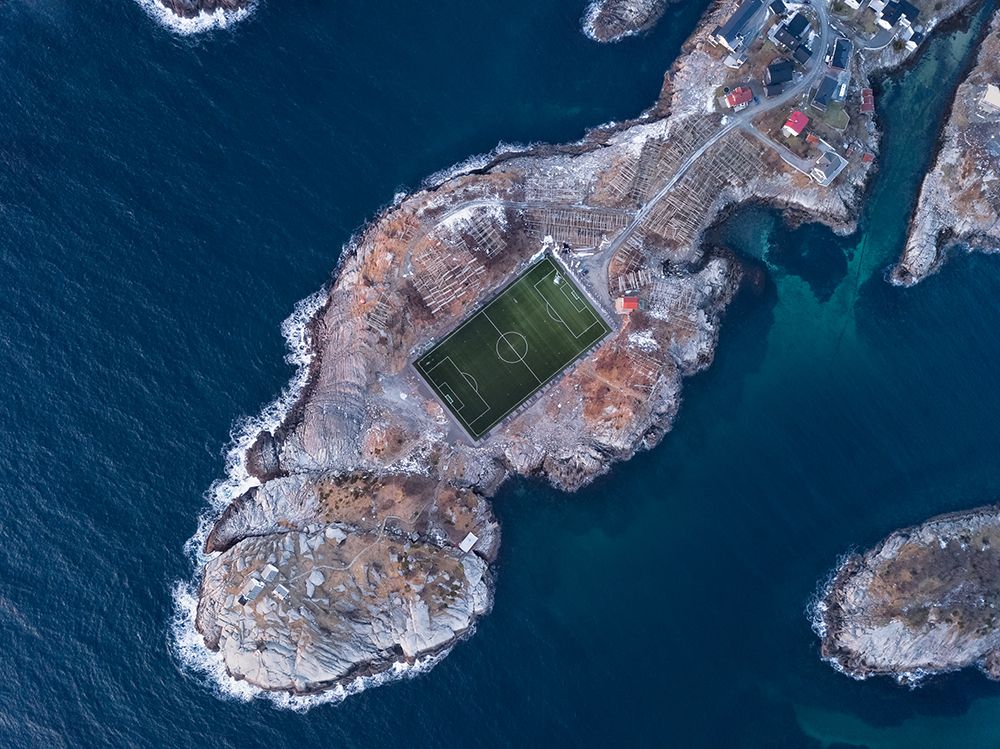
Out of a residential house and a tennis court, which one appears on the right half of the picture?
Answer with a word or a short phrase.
residential house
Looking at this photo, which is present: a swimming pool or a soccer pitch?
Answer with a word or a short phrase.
soccer pitch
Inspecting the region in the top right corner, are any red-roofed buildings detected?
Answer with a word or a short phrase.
Yes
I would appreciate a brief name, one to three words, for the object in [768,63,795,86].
house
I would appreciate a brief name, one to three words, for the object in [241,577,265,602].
shed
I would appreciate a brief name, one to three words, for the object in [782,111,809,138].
house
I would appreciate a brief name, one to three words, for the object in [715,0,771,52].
building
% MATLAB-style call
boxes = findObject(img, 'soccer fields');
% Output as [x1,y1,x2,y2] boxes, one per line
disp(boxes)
[409,248,619,447]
